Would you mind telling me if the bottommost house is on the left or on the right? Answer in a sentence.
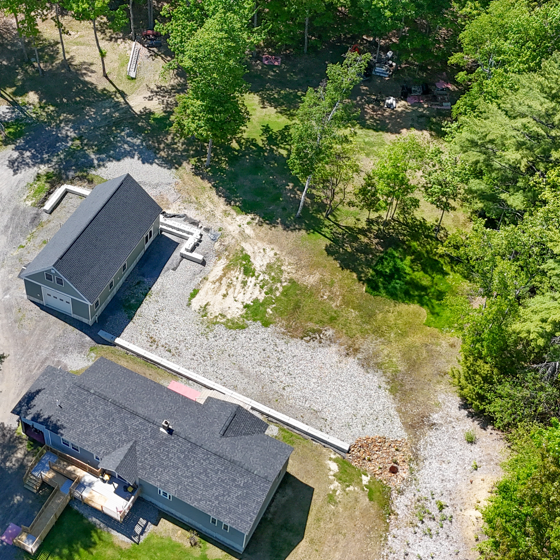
The bottommost house is on the left side of the image.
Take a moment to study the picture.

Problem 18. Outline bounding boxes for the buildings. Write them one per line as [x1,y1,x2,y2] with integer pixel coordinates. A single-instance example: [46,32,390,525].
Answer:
[9,357,294,553]
[19,172,163,326]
